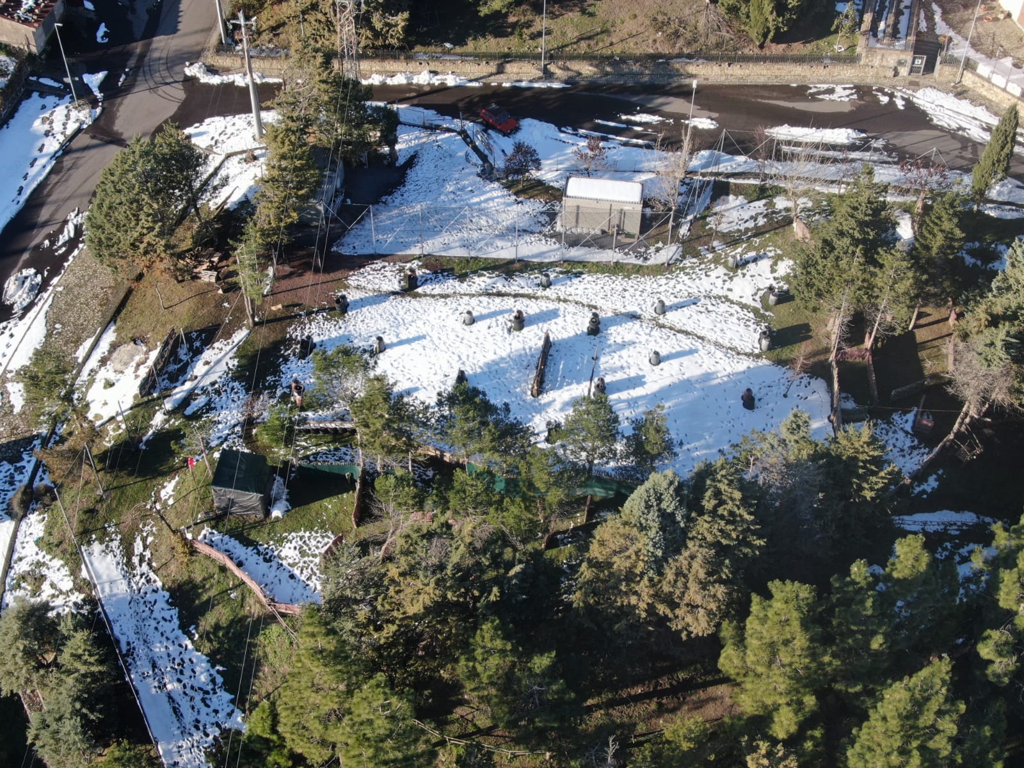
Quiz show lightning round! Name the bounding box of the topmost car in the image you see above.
[474,98,523,134]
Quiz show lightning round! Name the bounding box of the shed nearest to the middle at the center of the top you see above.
[556,175,647,241]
